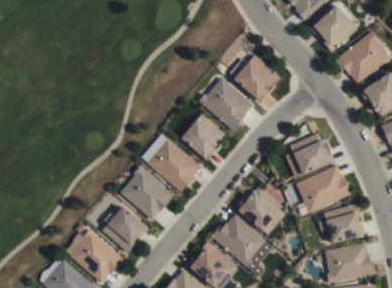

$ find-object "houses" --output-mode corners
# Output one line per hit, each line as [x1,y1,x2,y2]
[338,32,392,83]
[362,72,392,114]
[324,243,375,282]
[120,168,172,220]
[188,244,238,288]
[200,78,255,130]
[311,0,360,49]
[142,134,202,192]
[382,122,392,152]
[167,268,205,288]
[234,54,281,102]
[104,208,148,254]
[296,164,350,212]
[214,214,272,274]
[240,182,286,235]
[40,260,96,288]
[288,0,327,20]
[290,134,334,174]
[181,114,226,159]
[324,204,366,243]
[66,230,122,284]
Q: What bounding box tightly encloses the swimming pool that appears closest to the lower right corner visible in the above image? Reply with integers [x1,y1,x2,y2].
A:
[304,259,323,280]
